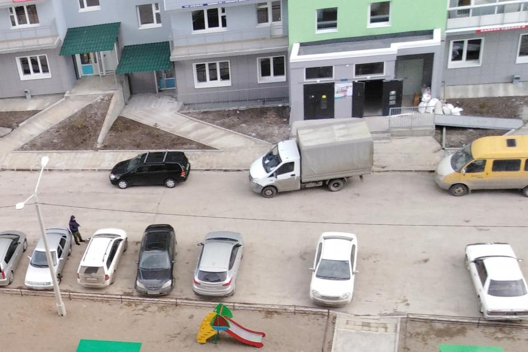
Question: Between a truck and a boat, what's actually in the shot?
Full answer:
Of the two, only a truck appears.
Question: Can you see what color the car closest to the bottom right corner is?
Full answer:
The car closest to the bottom right corner is white.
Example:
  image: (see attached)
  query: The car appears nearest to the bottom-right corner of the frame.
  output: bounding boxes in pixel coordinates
[465,245,528,324]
